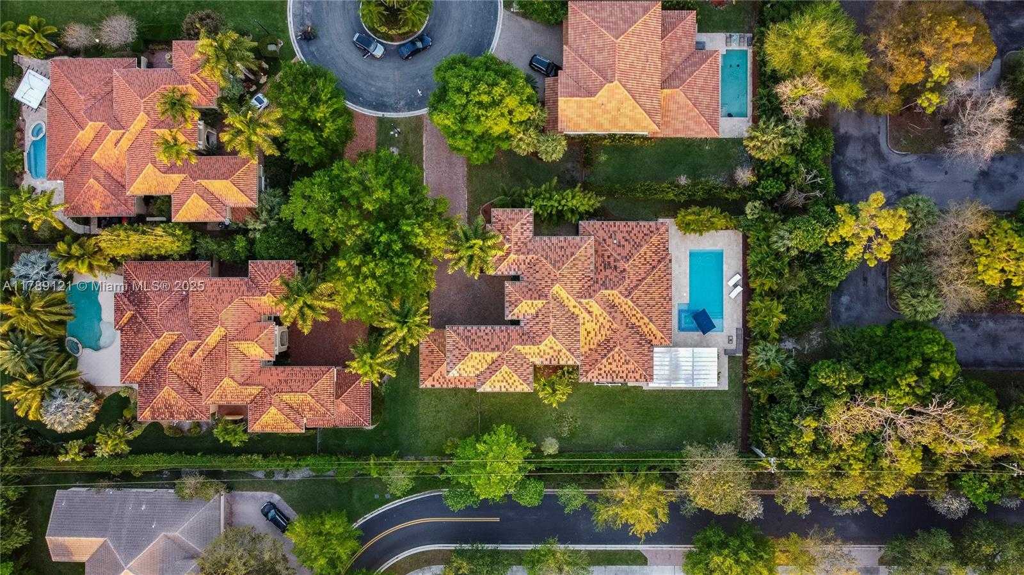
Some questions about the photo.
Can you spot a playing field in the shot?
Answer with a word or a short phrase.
No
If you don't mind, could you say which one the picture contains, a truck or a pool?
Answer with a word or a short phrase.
pool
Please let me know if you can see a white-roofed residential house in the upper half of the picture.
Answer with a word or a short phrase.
No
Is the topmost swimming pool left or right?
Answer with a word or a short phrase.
right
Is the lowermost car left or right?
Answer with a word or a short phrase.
left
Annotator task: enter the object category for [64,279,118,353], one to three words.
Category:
swimming pool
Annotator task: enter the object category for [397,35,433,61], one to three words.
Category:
car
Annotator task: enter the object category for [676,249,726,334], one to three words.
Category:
swimming pool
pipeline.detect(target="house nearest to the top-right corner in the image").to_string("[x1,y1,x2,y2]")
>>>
[545,0,720,138]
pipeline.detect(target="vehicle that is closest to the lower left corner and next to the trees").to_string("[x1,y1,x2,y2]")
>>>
[262,500,293,534]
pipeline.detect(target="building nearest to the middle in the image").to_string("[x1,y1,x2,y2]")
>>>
[419,208,673,393]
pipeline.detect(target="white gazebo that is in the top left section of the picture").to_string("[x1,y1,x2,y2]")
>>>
[14,67,49,111]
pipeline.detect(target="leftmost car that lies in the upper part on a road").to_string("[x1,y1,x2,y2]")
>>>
[352,34,386,62]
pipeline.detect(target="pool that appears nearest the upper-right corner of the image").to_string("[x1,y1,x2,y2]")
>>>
[720,47,750,118]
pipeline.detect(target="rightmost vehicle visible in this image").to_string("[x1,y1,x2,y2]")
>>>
[528,54,562,77]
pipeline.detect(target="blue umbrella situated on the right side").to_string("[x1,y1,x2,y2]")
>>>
[692,308,716,335]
